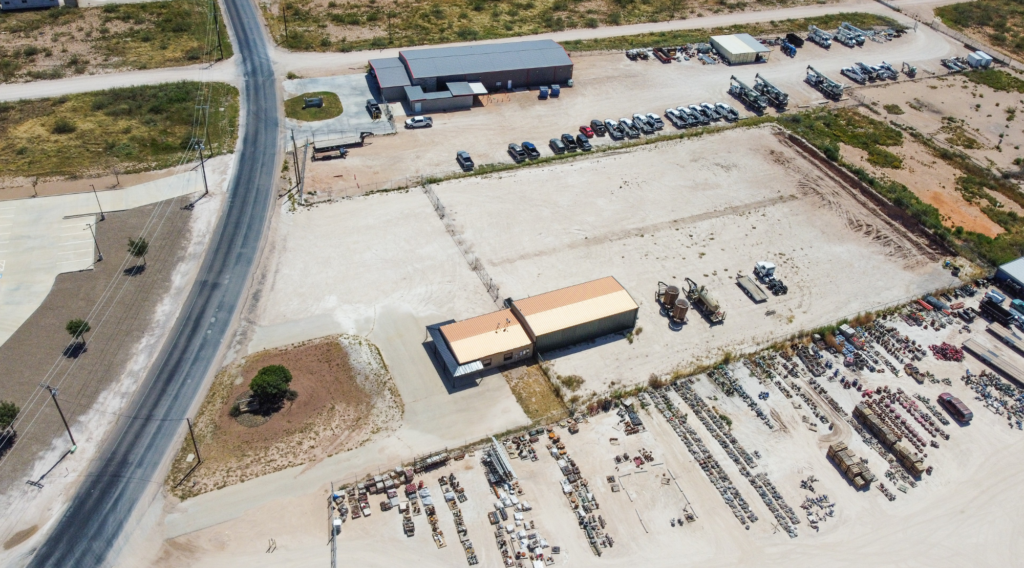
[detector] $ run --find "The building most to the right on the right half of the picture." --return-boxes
[992,262,1024,299]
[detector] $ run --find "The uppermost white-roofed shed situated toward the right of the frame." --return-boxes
[711,32,769,63]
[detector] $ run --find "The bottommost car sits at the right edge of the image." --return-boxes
[938,395,973,425]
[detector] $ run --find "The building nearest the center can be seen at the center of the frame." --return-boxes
[427,275,640,388]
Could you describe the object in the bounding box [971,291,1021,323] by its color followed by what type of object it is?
black trailer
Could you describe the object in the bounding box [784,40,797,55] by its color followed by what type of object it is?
blue vehicle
